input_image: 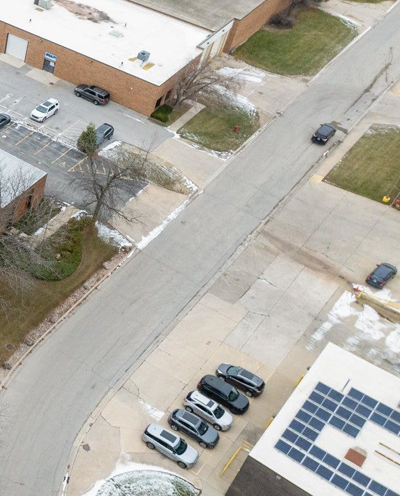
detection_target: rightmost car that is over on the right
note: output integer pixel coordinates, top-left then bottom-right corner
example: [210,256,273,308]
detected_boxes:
[364,260,394,291]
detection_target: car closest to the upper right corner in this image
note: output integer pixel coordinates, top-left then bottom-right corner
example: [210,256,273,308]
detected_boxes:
[310,124,335,145]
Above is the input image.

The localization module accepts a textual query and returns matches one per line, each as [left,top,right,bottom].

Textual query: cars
[364,260,394,291]
[142,423,202,471]
[212,359,269,400]
[310,124,335,145]
[178,386,236,432]
[162,403,221,450]
[99,121,115,148]
[72,83,111,106]
[29,96,59,122]
[192,368,253,416]
[0,113,14,130]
